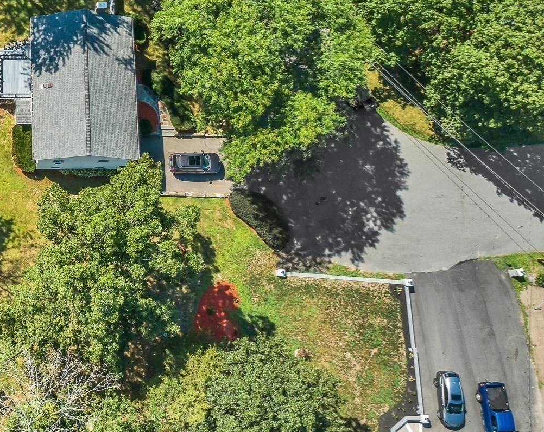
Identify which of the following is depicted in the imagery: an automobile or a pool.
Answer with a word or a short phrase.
automobile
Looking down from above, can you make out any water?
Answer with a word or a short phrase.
No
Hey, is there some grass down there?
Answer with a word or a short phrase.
Yes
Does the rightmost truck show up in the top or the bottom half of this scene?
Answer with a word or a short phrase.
bottom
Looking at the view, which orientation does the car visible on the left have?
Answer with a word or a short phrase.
horizontally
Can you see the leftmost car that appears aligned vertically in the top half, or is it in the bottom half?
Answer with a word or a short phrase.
bottom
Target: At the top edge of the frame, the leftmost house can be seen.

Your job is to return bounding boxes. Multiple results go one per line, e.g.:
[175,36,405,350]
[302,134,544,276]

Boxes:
[30,0,140,167]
